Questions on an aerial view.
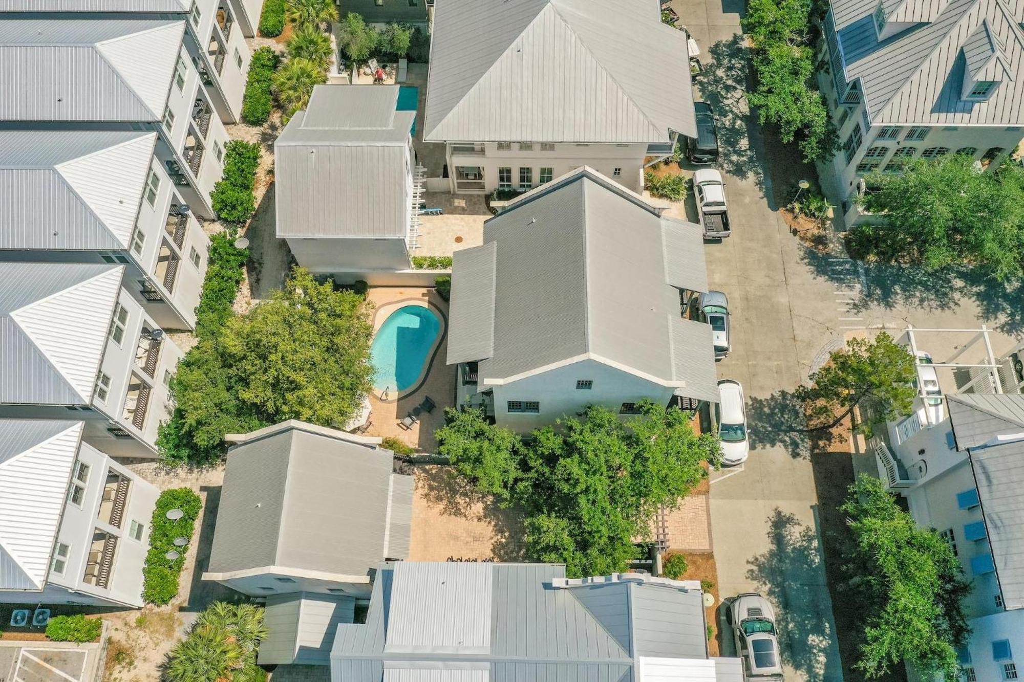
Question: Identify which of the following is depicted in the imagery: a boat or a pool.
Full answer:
This aerial view contains a pool.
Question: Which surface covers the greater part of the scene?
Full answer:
The scene is dominated by buildings.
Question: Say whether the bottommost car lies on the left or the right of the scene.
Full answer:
The bottommost car sits on the right side.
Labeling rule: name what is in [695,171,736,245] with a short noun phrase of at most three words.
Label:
truck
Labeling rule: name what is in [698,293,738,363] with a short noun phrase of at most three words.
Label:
car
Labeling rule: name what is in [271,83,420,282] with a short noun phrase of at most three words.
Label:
house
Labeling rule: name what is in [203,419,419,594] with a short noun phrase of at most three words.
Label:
building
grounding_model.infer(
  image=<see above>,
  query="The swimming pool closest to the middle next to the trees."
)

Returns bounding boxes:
[356,292,450,406]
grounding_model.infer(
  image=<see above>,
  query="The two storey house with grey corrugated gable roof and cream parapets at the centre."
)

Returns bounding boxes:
[447,176,718,425]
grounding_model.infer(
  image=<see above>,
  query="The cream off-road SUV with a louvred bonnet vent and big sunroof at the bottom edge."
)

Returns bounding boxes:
[731,594,783,682]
